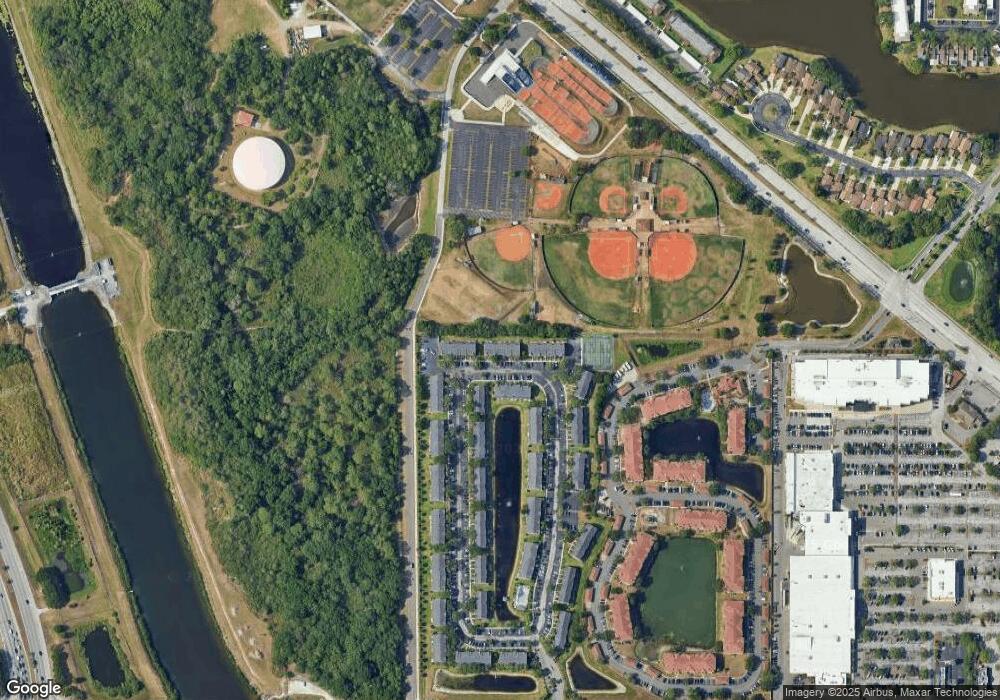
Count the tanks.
1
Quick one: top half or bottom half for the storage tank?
top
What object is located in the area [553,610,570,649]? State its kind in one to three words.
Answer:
house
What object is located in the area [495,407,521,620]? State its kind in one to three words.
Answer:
pond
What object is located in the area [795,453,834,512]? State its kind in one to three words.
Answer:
building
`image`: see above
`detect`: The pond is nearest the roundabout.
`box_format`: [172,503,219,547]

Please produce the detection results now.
[781,243,856,325]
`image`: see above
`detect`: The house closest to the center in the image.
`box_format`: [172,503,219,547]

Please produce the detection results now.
[484,343,521,357]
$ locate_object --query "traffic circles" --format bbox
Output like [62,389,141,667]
[752,93,791,132]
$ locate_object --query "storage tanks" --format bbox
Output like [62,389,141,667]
[231,137,285,189]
